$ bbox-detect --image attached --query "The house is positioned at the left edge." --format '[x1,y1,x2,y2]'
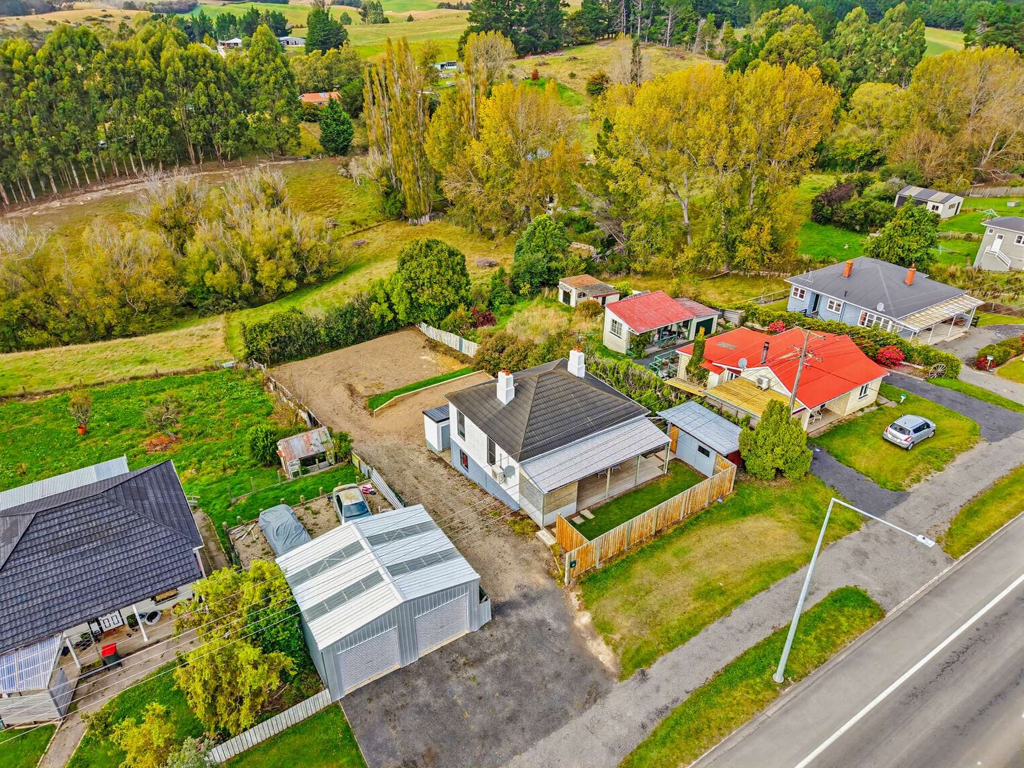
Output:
[0,454,211,745]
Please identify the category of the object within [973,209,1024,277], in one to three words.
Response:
house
